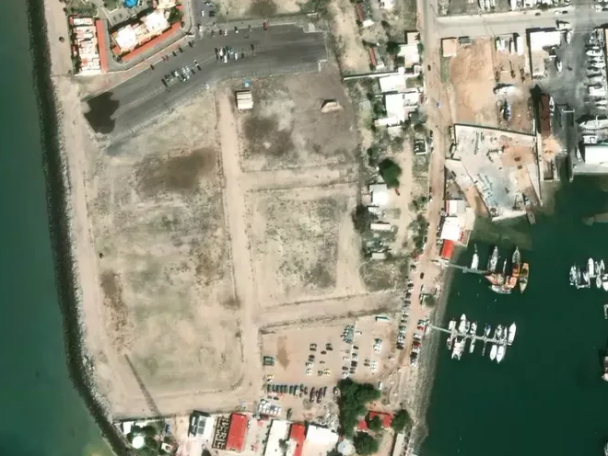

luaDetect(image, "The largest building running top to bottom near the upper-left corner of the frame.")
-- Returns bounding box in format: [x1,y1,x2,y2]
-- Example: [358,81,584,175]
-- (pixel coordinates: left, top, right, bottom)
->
[70,17,102,78]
